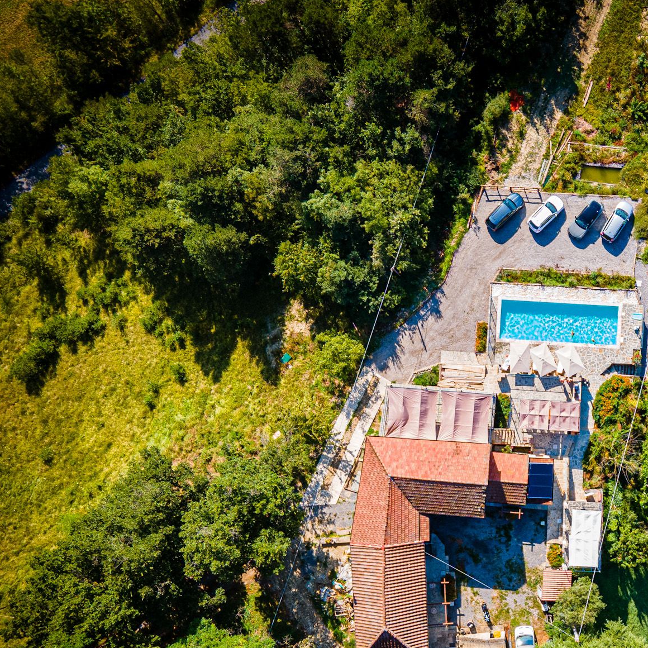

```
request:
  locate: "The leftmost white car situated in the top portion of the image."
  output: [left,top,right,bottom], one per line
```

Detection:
[526,196,563,235]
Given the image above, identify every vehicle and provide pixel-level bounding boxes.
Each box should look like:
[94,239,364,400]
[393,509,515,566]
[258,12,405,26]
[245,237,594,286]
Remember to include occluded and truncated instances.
[513,623,537,648]
[526,196,563,235]
[568,198,604,241]
[485,192,524,234]
[482,603,492,621]
[599,201,631,244]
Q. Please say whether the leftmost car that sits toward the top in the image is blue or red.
blue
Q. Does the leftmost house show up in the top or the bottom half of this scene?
bottom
